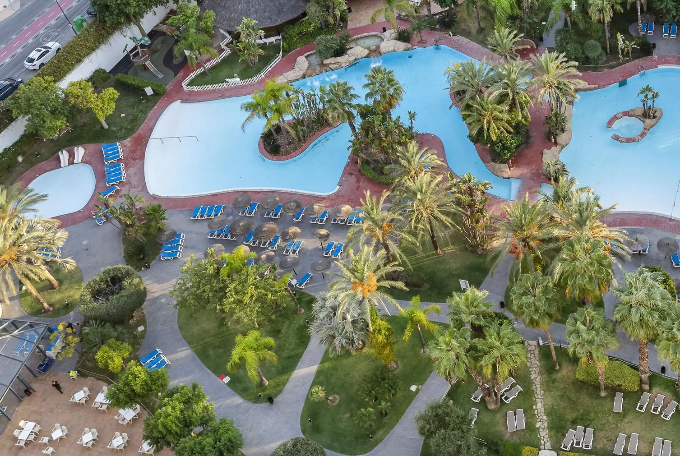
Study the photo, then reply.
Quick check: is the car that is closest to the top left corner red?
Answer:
No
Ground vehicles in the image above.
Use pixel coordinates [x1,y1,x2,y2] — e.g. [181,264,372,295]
[79,0,105,20]
[0,79,24,102]
[22,43,62,68]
